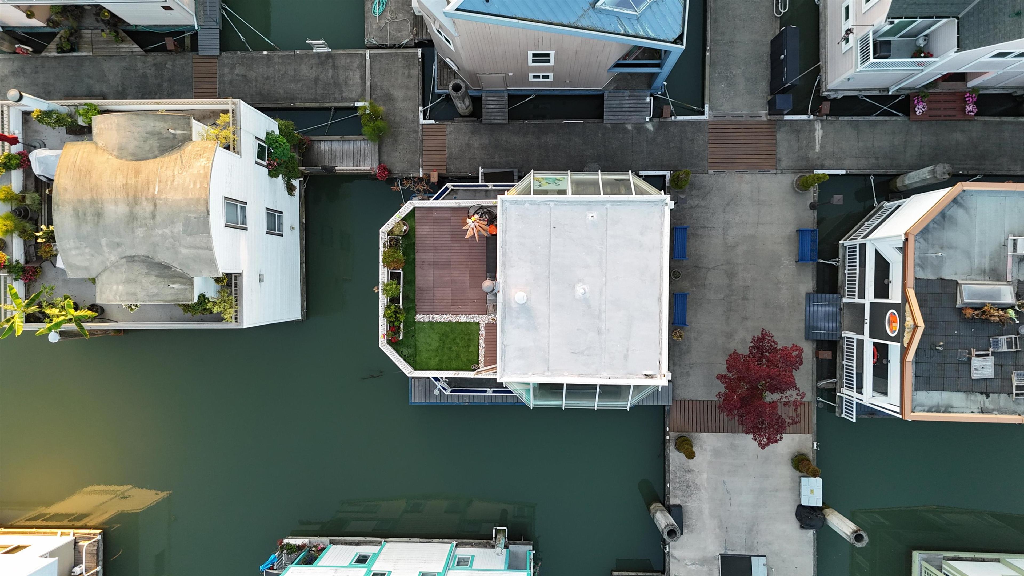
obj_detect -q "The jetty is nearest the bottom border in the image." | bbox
[663,431,818,576]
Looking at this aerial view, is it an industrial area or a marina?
marina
